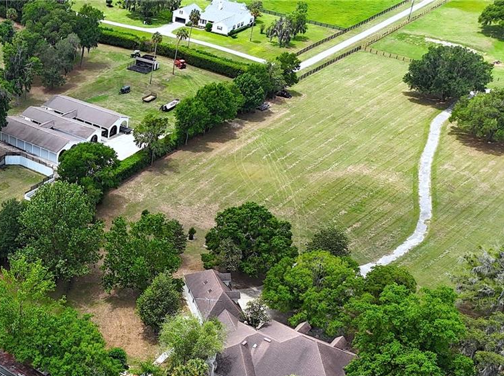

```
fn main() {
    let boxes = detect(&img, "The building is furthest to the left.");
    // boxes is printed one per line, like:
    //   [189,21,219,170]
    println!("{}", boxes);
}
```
[0,93,135,164]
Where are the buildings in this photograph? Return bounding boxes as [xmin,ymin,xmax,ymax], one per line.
[173,5,269,36]
[183,268,376,376]
[0,93,135,164]
[136,58,162,70]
